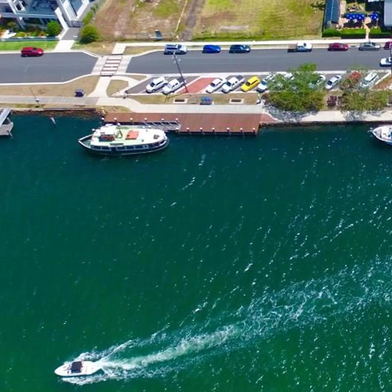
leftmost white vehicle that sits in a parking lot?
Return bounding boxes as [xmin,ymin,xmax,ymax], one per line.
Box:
[147,76,166,90]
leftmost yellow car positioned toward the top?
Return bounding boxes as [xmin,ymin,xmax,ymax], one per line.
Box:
[242,75,260,89]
